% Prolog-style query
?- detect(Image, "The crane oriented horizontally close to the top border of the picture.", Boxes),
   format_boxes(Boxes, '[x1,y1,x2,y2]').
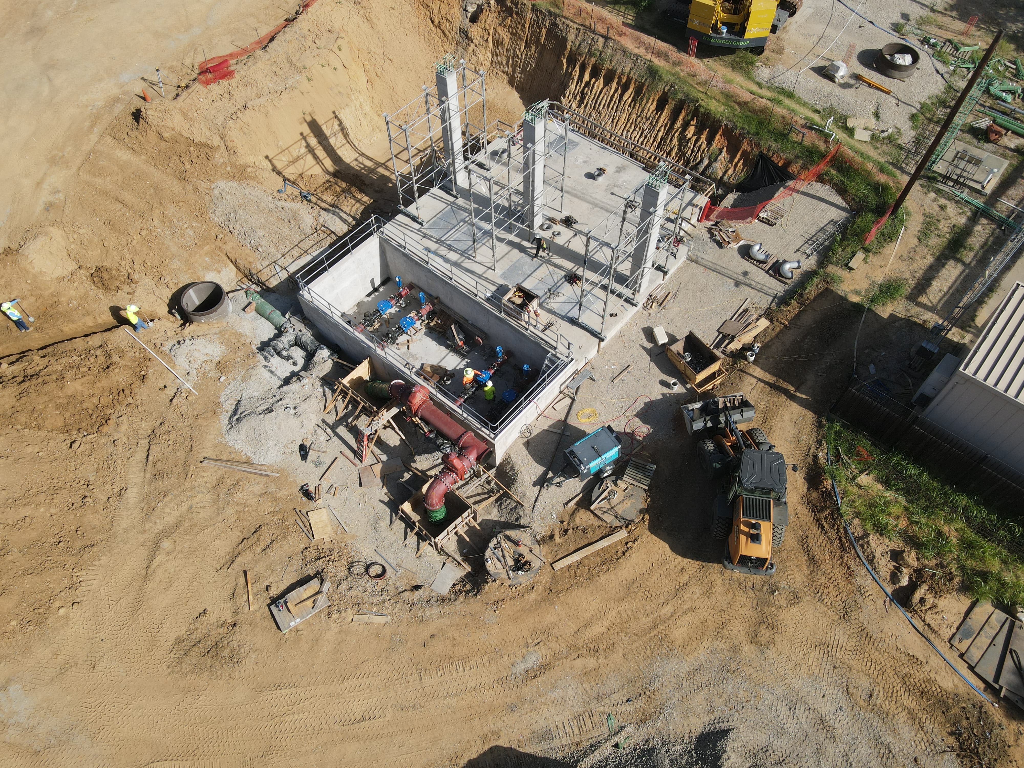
[670,0,788,51]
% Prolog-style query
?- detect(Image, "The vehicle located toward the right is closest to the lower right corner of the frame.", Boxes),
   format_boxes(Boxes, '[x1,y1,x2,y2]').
[679,403,796,574]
